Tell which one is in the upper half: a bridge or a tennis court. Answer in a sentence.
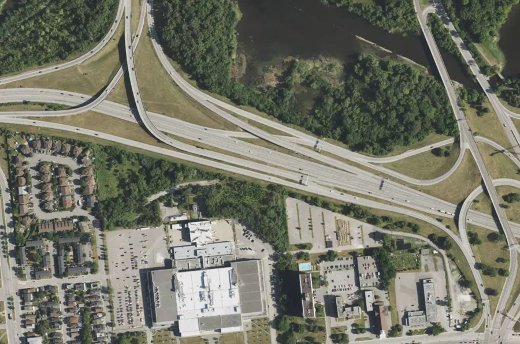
What appears in the upper half is a bridge.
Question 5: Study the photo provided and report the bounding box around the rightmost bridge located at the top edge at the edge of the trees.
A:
[417,16,453,94]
